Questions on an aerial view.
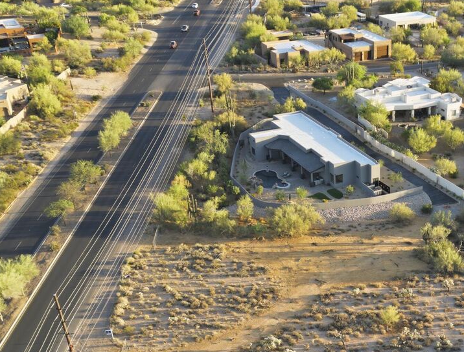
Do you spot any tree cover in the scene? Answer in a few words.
Yes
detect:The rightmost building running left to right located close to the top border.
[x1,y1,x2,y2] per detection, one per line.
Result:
[379,11,436,31]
